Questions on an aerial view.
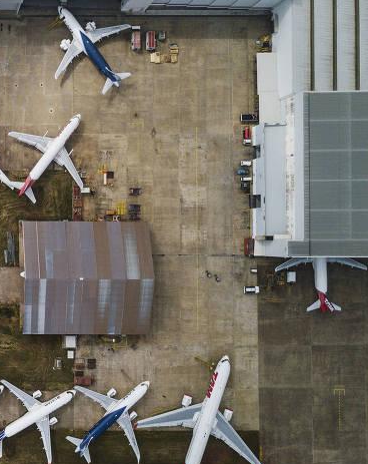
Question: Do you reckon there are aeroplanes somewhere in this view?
Yes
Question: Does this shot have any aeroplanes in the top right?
No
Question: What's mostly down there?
paved ground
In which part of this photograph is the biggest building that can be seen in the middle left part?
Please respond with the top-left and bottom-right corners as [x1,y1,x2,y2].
[21,220,154,334]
